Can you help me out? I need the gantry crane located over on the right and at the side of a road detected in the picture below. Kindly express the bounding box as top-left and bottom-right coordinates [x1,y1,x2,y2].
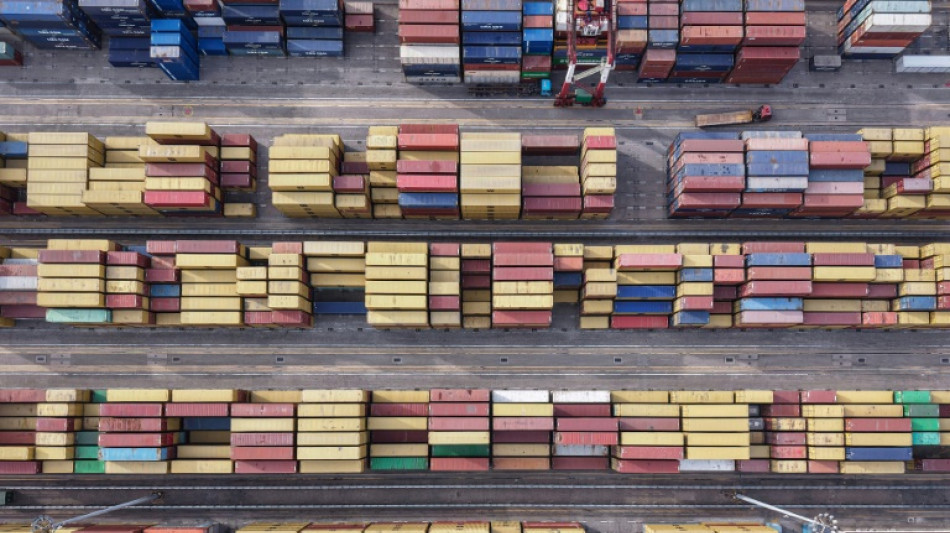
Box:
[553,0,619,104]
